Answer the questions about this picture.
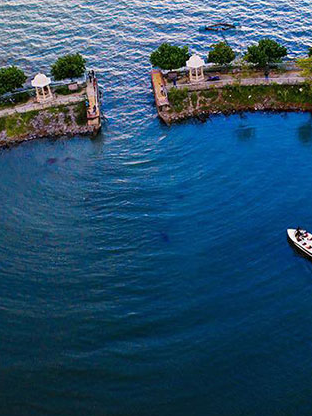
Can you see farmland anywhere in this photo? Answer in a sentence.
No, farmland can't be seen anywhere here.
